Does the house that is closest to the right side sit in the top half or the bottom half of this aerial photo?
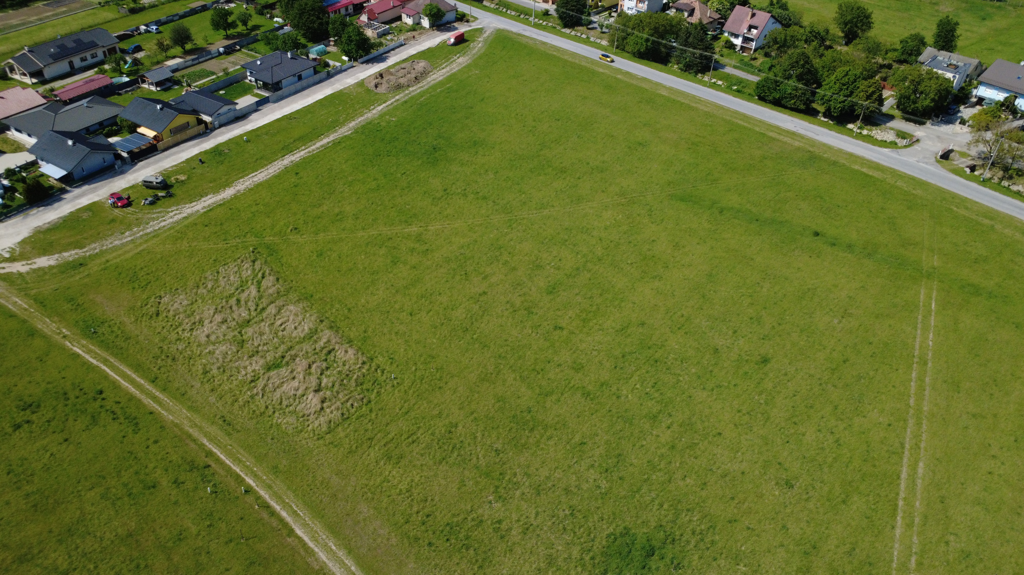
top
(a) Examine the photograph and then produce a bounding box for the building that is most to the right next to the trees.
[973,60,1024,113]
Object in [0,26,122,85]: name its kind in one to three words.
house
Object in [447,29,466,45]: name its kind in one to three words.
vehicle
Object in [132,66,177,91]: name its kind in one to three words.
building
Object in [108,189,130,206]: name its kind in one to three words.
car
